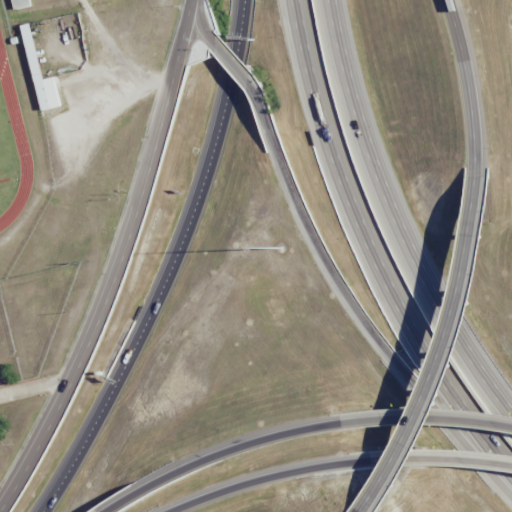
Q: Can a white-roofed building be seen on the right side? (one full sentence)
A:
No, on the right side there is no white-roofed building.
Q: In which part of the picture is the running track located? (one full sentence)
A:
You can find the running track in the top left area of the picture.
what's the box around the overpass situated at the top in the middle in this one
[208,41,284,153]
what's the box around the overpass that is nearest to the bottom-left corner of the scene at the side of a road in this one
[86,462,172,512]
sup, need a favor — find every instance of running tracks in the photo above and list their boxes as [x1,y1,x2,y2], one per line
[0,14,34,233]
